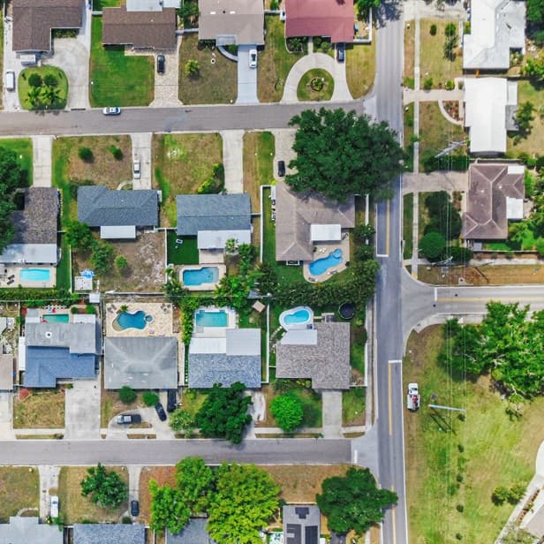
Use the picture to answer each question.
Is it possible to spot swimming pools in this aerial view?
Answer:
Yes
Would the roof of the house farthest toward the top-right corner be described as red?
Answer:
No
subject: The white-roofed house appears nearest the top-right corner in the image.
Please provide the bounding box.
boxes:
[460,0,526,69]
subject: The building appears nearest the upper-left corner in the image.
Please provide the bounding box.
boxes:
[12,0,85,66]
